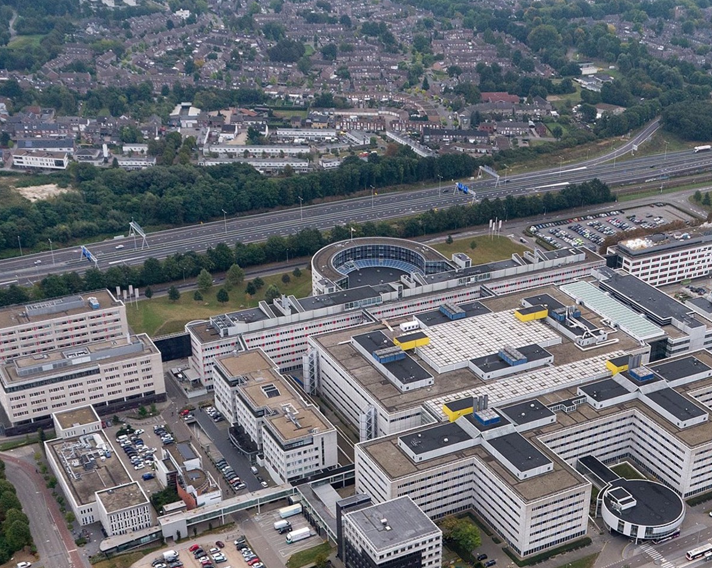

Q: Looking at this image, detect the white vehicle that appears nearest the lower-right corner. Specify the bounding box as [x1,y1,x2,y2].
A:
[685,540,712,559]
